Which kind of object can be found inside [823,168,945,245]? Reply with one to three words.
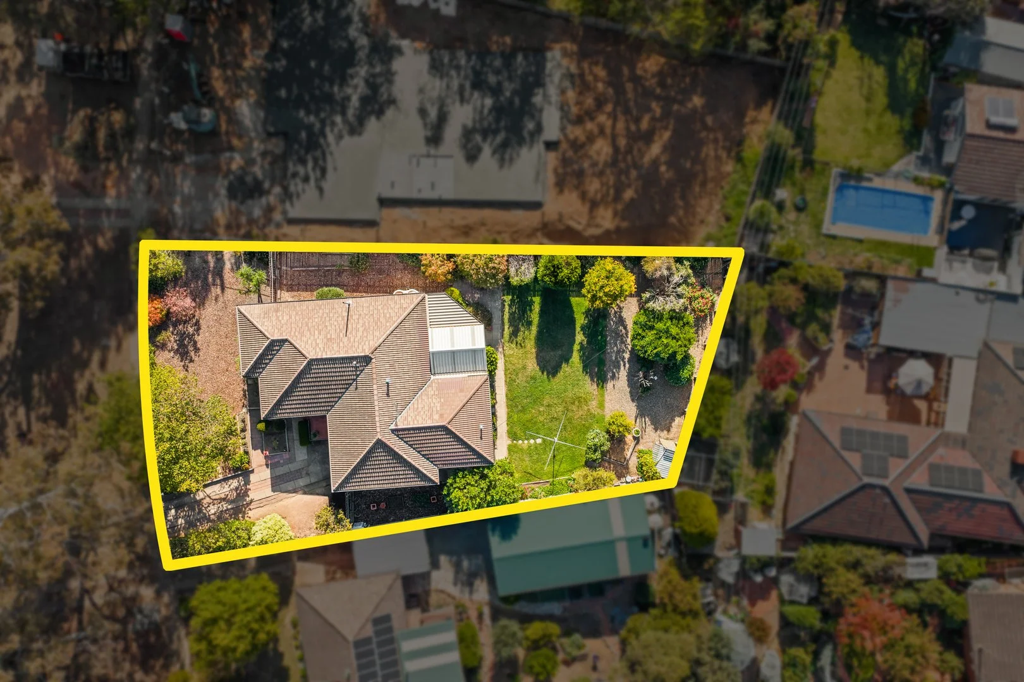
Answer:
swimming pool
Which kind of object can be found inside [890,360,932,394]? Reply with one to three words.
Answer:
umbrella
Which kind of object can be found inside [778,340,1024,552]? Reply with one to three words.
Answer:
house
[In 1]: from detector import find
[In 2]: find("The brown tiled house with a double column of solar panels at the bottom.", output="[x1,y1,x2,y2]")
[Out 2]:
[293,572,416,682]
